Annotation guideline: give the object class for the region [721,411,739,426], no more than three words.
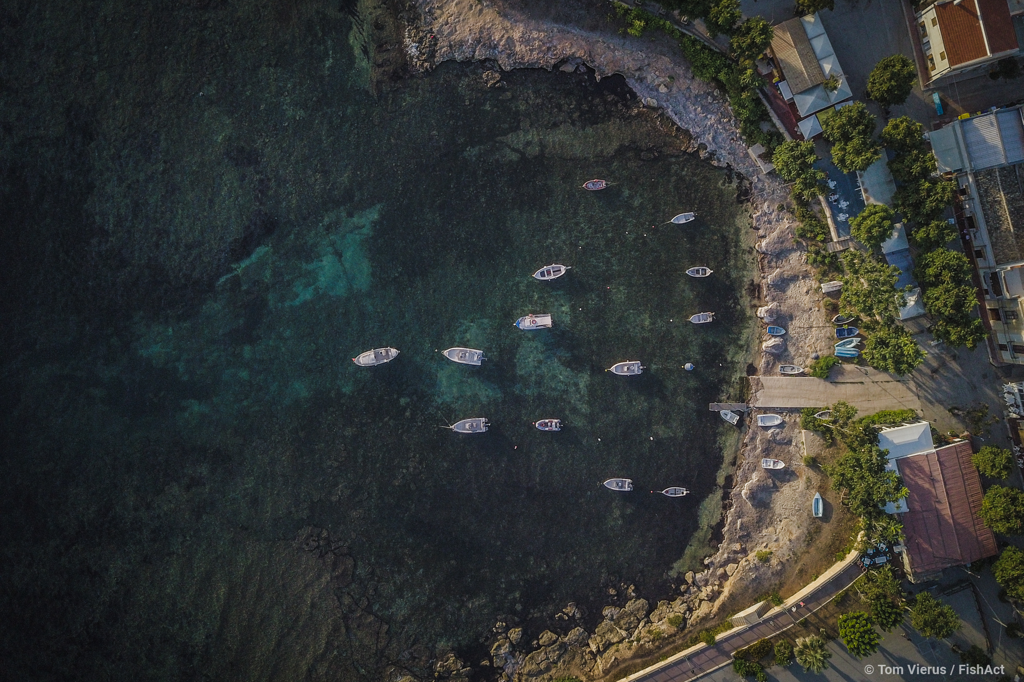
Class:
boat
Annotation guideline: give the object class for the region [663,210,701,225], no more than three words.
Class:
boat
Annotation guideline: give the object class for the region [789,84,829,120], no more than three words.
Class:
tent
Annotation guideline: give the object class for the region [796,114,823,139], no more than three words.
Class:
tent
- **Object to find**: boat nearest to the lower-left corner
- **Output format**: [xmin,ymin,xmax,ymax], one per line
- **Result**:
[348,345,400,367]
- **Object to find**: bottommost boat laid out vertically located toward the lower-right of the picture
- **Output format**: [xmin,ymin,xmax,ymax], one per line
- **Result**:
[813,493,825,518]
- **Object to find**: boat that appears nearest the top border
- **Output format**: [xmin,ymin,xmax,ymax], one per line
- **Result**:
[582,179,612,191]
